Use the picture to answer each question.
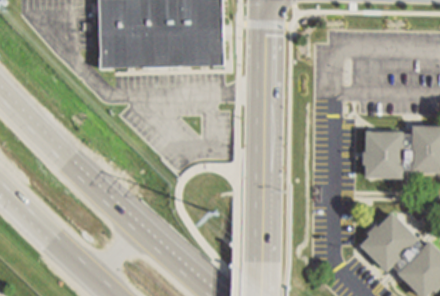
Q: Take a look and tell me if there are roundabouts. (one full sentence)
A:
No, there appears to be no roundabout in this shot.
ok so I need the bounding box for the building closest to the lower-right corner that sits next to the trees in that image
[362,212,440,296]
